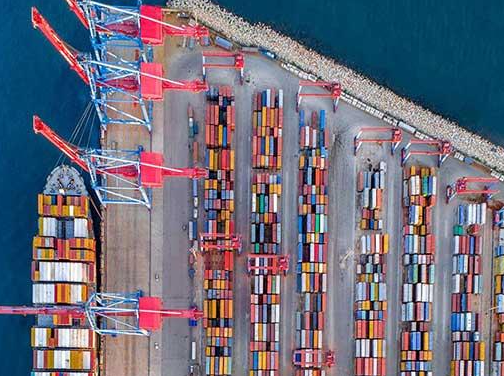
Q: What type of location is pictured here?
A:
port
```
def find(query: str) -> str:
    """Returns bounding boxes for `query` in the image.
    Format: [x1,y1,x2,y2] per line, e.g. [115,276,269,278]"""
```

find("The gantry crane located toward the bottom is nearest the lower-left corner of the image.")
[0,295,204,343]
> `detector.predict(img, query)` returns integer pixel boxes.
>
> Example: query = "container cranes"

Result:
[290,350,336,369]
[296,81,341,113]
[33,110,205,215]
[73,0,205,77]
[0,295,204,343]
[355,127,403,156]
[199,233,243,257]
[448,177,501,204]
[401,140,452,168]
[36,1,205,136]
[246,254,290,278]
